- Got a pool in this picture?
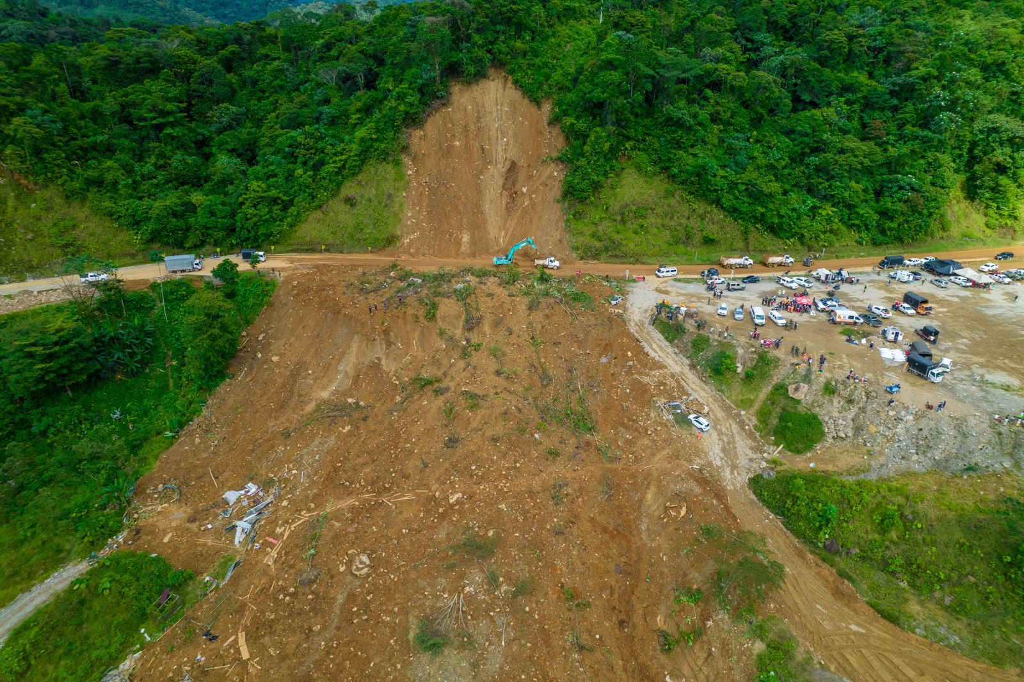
No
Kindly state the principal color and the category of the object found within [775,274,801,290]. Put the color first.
white car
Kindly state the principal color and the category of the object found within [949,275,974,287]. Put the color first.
white vehicle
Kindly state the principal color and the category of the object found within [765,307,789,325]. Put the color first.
white car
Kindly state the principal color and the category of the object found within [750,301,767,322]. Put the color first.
white vehicle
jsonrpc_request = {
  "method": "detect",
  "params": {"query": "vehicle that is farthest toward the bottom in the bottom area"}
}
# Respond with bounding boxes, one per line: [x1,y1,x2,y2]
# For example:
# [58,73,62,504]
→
[686,415,711,431]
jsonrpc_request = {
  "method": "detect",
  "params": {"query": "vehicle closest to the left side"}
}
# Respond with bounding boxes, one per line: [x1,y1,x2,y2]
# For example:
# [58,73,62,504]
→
[77,270,109,283]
